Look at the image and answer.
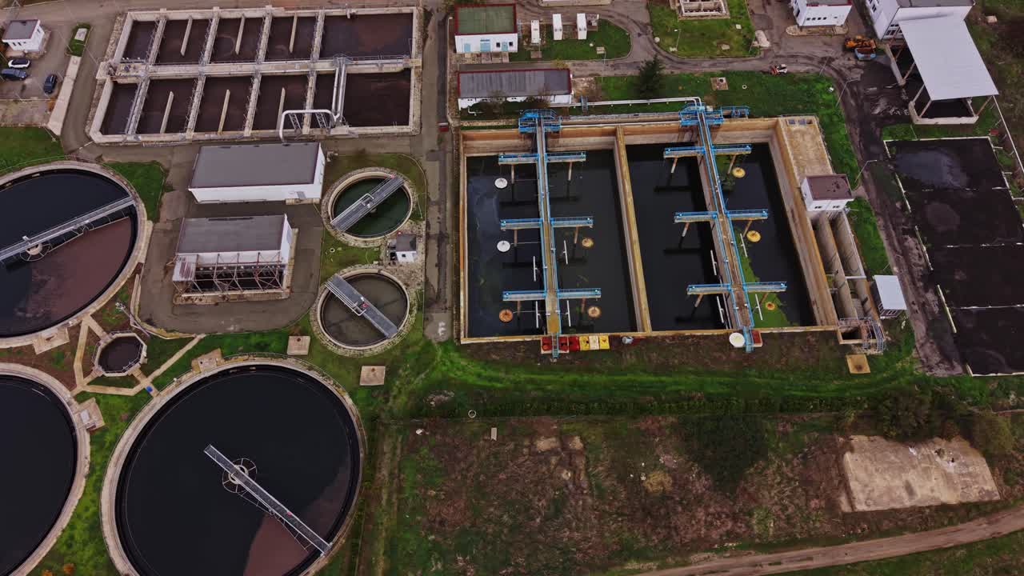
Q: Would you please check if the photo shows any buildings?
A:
Yes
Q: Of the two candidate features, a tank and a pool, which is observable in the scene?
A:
tank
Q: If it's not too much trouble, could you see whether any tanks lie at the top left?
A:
Yes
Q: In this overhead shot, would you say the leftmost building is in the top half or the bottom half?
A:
top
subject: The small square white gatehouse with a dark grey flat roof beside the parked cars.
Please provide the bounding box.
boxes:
[2,19,48,54]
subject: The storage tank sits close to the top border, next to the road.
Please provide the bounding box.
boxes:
[90,4,424,148]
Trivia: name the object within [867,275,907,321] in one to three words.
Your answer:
shed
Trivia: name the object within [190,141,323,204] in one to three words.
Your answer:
building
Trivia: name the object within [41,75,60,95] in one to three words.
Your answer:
car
